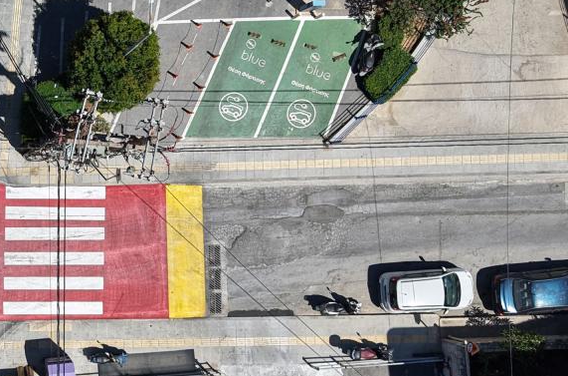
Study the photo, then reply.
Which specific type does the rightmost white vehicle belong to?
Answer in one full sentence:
Looking closely, the rightmost white vehicle is an automobile.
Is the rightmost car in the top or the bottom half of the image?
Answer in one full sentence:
The rightmost car sits in the bottom half of the picture.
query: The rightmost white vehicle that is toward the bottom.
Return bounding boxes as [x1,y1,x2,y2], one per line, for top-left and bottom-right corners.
[372,264,474,320]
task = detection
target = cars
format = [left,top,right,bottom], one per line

[372,264,474,320]
[488,269,568,314]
